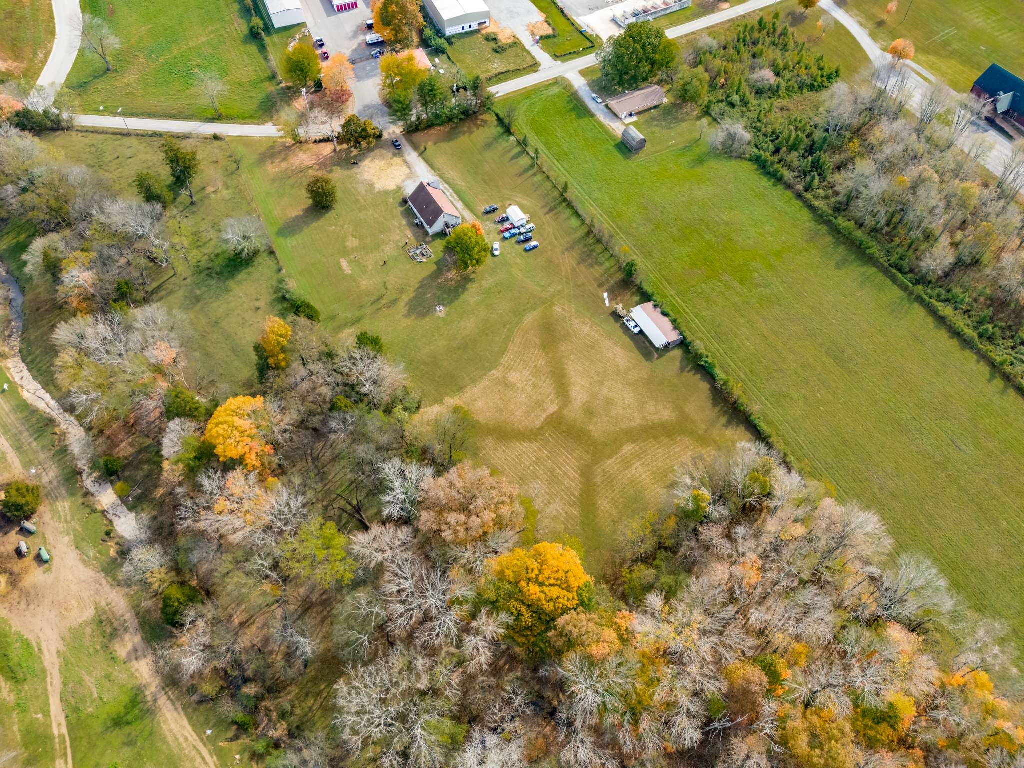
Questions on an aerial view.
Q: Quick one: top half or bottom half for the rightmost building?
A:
top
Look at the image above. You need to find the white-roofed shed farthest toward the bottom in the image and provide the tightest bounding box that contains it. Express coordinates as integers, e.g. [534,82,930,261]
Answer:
[627,304,683,355]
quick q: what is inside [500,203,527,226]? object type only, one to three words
shed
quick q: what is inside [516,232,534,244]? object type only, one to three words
vehicle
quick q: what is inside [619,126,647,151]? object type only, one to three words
barn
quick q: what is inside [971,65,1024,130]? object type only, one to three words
building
